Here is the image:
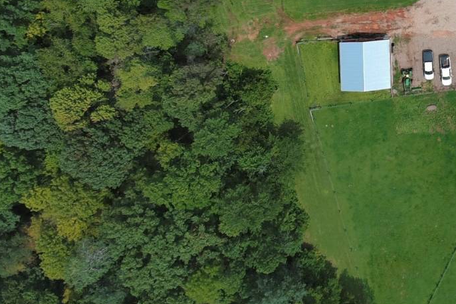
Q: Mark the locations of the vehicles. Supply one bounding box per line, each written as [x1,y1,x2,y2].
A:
[401,67,412,90]
[439,53,453,86]
[422,48,435,81]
